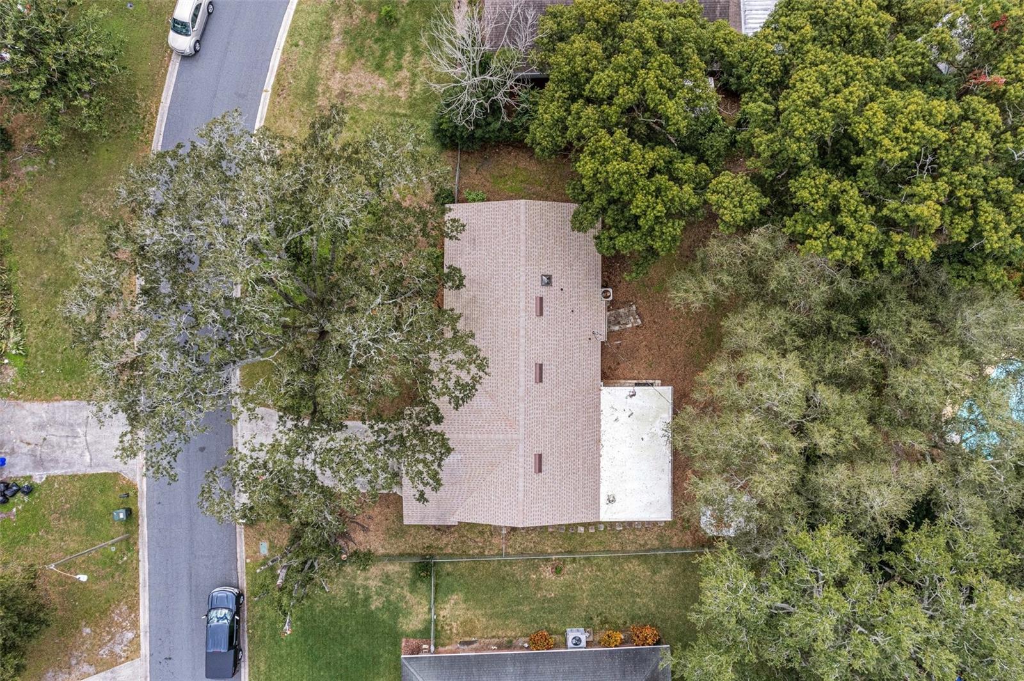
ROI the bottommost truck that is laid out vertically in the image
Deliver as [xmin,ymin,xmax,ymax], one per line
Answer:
[202,586,244,680]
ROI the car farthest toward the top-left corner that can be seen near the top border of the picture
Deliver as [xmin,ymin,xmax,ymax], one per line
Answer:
[164,0,216,62]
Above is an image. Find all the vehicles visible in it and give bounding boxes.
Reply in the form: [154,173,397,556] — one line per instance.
[164,0,216,62]
[202,586,244,680]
